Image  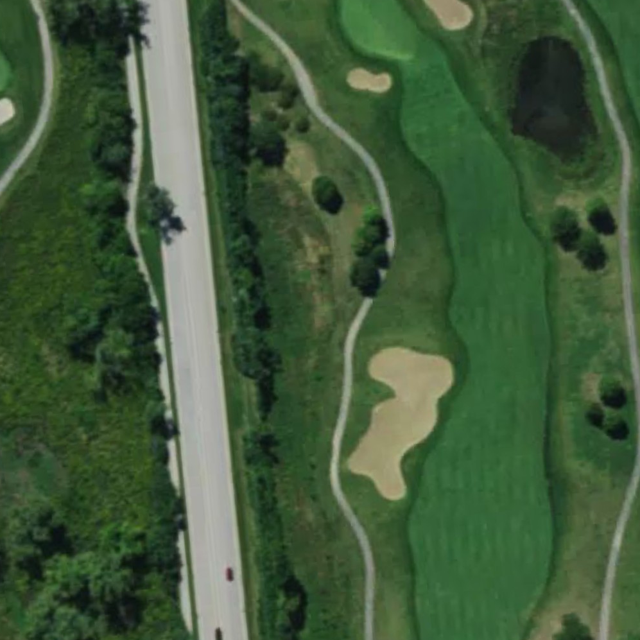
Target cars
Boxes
[226,567,233,582]
[215,628,222,640]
